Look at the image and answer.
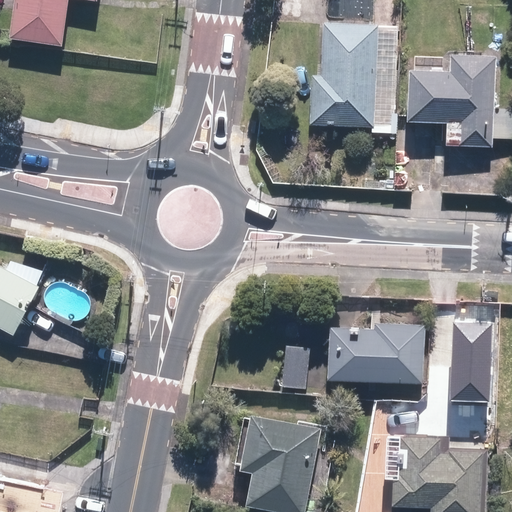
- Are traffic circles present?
Yes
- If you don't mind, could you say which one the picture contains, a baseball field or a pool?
pool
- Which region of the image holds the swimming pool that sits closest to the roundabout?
left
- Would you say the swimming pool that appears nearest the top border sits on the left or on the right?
right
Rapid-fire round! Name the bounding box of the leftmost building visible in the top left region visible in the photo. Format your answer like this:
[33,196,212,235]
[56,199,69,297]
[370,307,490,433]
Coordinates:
[10,0,69,47]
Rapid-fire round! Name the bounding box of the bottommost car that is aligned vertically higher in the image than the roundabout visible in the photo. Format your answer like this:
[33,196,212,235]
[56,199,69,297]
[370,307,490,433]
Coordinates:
[213,112,228,145]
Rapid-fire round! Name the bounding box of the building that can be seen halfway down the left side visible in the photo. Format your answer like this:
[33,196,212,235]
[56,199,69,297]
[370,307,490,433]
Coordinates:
[0,261,42,336]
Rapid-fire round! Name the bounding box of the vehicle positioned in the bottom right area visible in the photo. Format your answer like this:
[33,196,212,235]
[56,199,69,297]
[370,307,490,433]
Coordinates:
[388,414,420,429]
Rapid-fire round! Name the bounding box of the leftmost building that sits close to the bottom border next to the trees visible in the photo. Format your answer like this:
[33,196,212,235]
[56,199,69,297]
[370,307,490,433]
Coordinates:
[234,416,326,512]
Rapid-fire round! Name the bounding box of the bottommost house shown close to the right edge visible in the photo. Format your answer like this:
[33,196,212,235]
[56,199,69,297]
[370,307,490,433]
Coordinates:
[392,436,488,512]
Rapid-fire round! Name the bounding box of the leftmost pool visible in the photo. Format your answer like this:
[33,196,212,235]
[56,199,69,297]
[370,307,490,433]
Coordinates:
[44,282,90,322]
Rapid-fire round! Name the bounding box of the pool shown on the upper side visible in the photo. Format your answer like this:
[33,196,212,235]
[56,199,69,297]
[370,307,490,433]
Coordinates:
[328,0,374,20]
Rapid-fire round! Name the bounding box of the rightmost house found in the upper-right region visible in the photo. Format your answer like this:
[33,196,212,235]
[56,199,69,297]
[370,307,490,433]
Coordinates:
[406,54,496,148]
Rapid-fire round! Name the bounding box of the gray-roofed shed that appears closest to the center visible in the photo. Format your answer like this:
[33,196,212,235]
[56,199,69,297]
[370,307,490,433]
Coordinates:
[280,346,310,390]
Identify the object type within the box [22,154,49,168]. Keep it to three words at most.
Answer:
vehicle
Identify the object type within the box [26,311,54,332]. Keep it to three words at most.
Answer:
car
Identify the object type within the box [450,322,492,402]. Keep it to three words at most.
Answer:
house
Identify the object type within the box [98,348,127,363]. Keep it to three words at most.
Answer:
car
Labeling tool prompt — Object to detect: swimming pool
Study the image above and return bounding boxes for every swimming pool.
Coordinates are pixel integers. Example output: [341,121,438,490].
[328,0,374,20]
[44,282,90,322]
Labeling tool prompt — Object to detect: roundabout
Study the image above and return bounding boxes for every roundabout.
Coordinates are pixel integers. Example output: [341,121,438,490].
[157,184,224,251]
